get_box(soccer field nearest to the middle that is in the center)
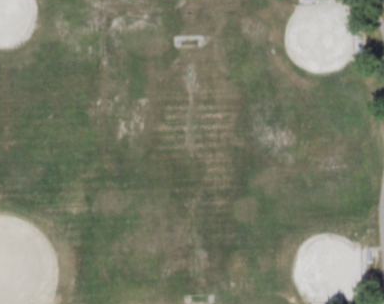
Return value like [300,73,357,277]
[146,35,242,304]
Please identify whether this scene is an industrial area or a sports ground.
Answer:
sports ground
